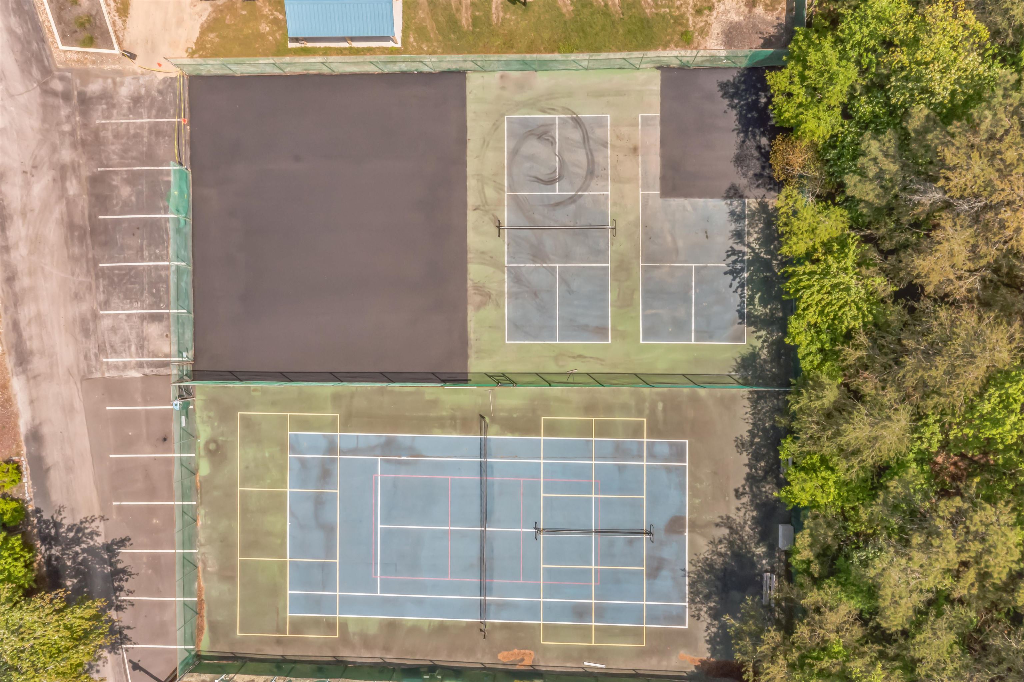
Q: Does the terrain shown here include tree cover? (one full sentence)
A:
Yes, there is tree cover in the image.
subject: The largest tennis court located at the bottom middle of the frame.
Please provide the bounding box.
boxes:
[288,432,688,628]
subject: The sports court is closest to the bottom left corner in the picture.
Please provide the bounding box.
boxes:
[237,413,339,637]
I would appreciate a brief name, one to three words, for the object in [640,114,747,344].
sports court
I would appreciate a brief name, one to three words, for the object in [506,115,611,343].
sports court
